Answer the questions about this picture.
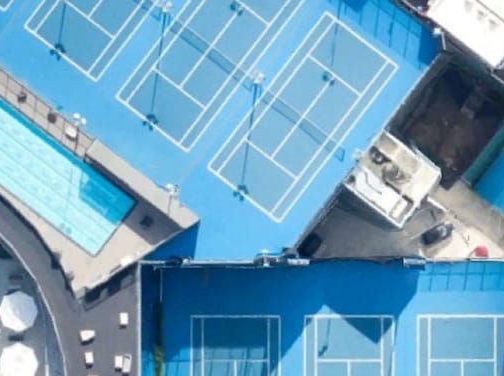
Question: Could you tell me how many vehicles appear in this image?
2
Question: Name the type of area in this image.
sports ground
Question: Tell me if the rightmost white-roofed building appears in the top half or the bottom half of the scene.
top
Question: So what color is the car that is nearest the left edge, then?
black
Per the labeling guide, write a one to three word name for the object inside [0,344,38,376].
umbrella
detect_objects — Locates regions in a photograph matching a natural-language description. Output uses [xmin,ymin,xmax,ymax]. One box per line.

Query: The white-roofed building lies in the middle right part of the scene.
[343,132,442,228]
